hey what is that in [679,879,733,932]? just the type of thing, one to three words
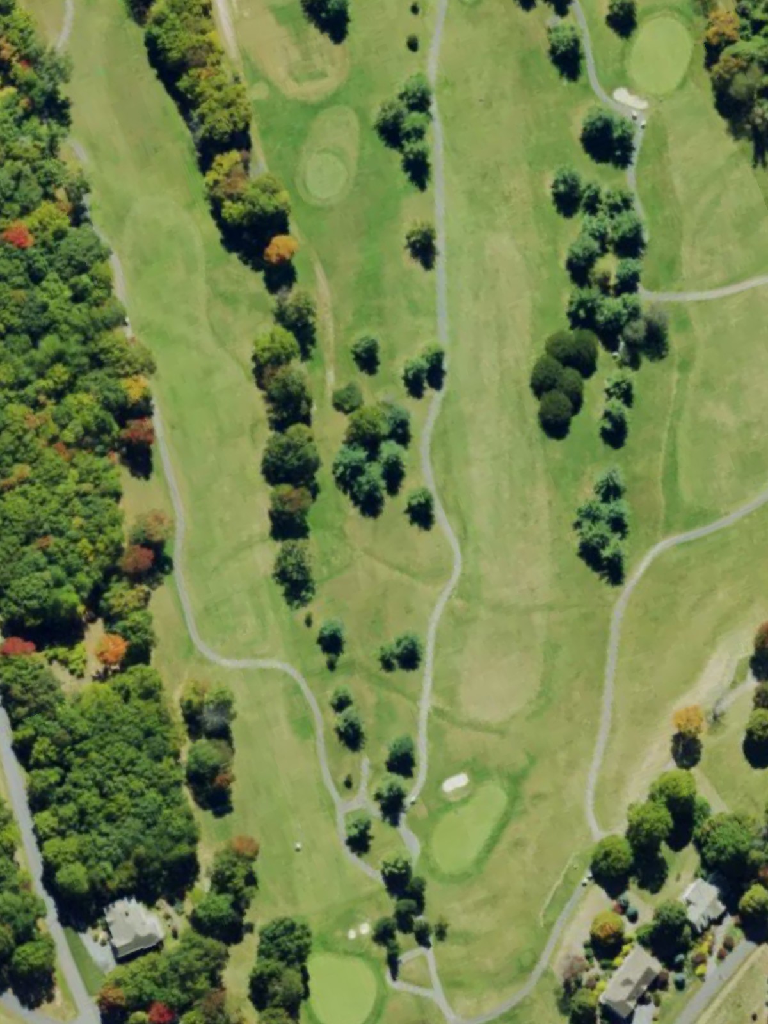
house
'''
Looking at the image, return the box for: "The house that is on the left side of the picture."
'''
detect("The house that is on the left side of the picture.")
[104,894,165,955]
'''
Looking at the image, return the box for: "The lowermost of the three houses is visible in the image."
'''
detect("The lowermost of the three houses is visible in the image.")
[598,946,664,1018]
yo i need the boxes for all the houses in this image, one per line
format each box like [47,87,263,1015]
[679,879,733,932]
[104,894,165,955]
[598,946,664,1018]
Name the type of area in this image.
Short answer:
golf course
